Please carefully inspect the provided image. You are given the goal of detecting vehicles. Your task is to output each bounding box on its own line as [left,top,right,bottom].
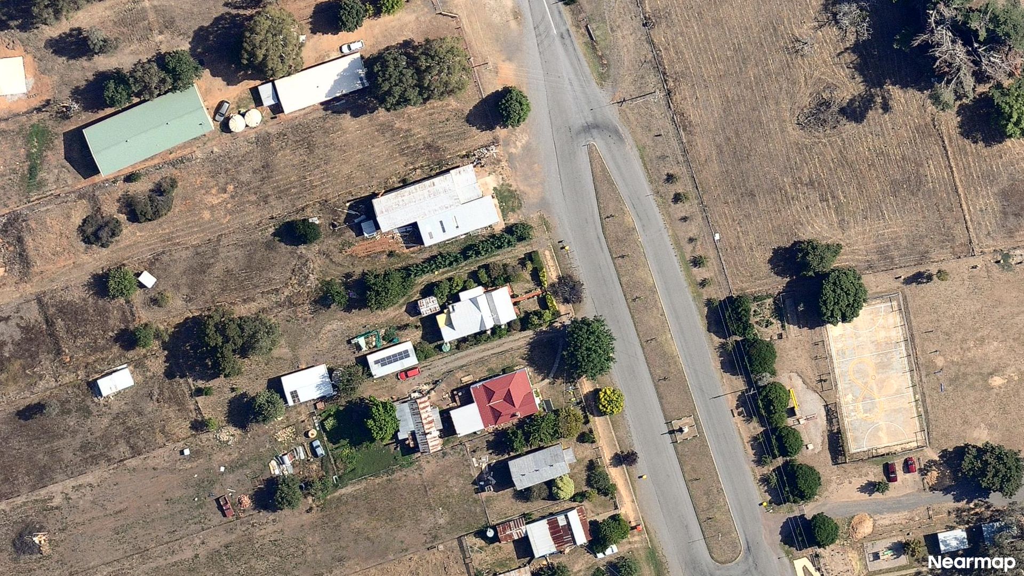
[888,462,898,483]
[397,367,421,380]
[595,545,619,558]
[312,438,325,459]
[340,40,364,54]
[218,494,233,518]
[214,100,230,121]
[906,456,916,474]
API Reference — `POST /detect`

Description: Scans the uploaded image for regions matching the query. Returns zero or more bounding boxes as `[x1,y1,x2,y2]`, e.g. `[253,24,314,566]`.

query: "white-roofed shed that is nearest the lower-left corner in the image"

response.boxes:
[89,364,133,397]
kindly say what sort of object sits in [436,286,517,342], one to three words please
house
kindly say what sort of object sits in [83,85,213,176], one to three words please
shed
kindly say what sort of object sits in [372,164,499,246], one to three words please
building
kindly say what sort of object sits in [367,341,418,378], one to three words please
shed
